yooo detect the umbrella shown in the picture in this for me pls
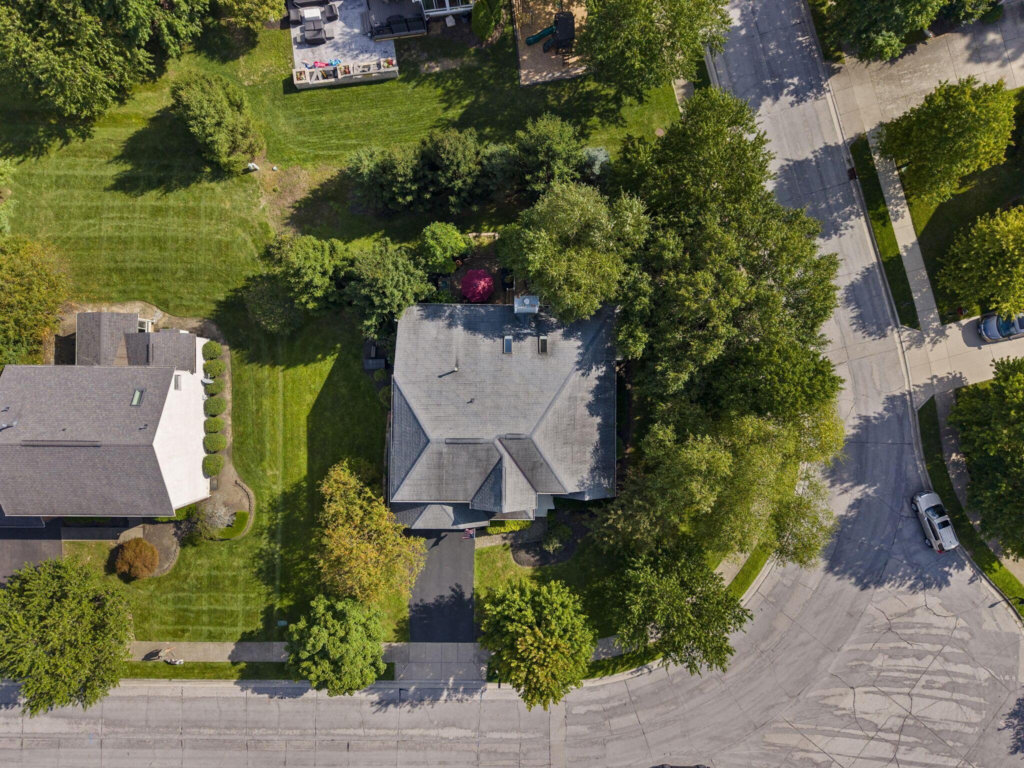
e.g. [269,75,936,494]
[461,271,492,301]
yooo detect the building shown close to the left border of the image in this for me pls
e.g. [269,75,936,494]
[0,312,216,529]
